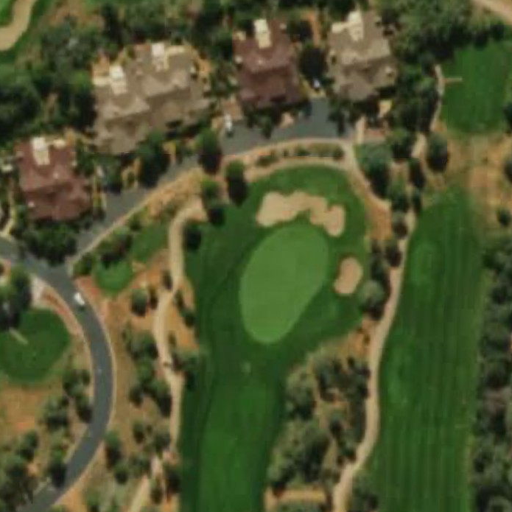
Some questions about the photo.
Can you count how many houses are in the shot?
four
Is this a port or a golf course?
golf course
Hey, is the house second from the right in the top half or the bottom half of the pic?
top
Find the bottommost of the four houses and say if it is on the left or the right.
left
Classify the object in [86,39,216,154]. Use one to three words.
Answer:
house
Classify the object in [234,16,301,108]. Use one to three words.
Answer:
house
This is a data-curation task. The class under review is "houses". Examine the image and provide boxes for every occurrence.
[86,39,216,154]
[234,16,301,108]
[327,6,400,101]
[2,135,93,223]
